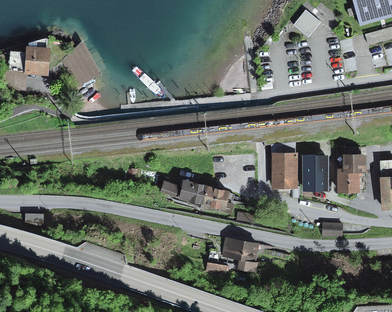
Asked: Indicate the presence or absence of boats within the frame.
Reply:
Yes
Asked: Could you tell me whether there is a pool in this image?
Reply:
No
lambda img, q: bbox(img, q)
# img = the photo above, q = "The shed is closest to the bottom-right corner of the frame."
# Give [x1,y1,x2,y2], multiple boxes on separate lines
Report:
[322,222,343,237]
